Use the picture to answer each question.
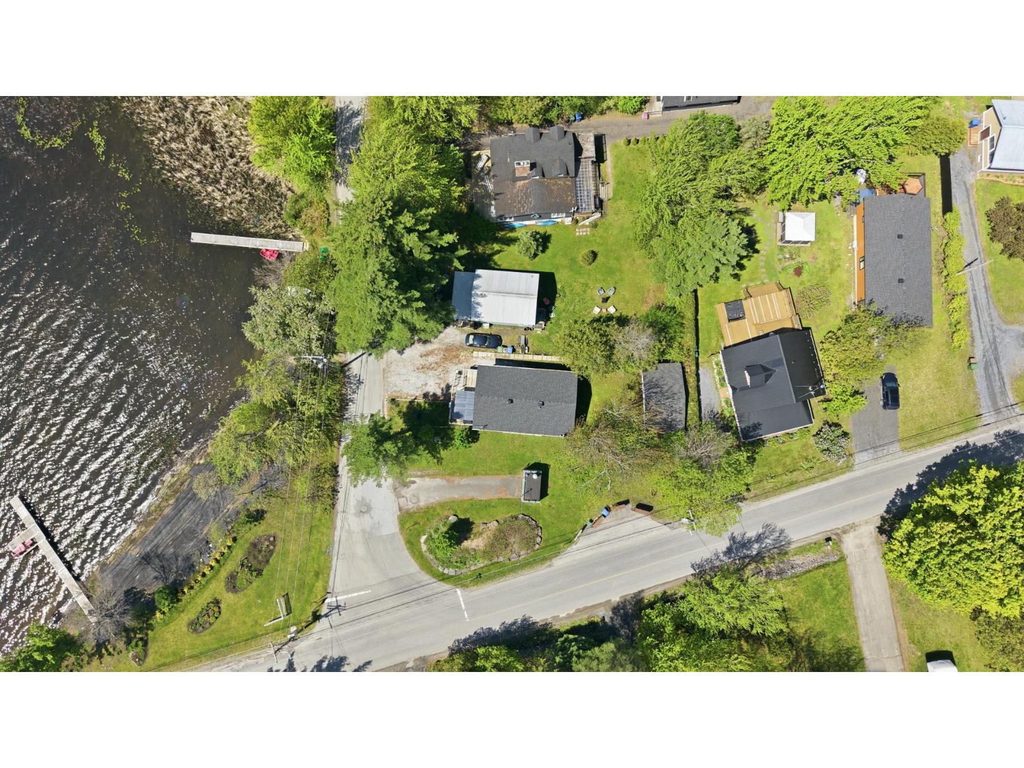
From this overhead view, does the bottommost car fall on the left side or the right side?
right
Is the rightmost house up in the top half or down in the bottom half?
top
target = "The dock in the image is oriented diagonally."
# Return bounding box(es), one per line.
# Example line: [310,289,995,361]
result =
[6,496,100,622]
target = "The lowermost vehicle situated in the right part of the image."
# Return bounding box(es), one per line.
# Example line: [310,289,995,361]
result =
[879,373,901,409]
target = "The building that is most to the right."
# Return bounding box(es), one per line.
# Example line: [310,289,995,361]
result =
[978,100,1024,180]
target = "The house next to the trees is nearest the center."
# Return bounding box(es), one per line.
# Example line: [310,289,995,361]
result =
[472,364,577,437]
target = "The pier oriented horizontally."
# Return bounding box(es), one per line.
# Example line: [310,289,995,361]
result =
[191,233,304,251]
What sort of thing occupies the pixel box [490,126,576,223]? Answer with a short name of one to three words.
house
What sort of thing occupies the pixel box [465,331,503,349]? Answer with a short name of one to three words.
car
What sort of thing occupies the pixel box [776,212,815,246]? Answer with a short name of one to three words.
gazebo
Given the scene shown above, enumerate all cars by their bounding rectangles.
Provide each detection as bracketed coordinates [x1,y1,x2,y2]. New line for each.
[465,331,503,349]
[879,373,901,409]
